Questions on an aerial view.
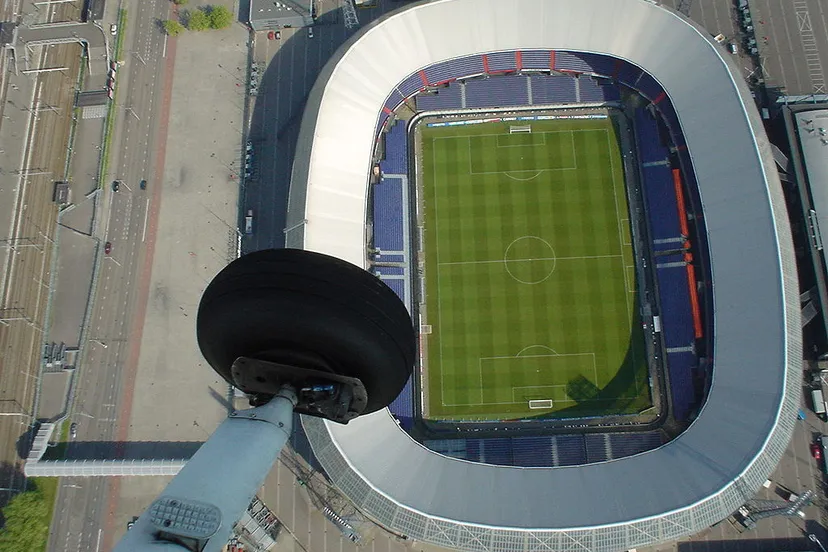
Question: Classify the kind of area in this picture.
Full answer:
The picture captures a sports ground.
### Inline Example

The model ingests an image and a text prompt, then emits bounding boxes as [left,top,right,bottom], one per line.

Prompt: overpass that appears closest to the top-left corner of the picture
[12,19,109,91]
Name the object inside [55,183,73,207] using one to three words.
shed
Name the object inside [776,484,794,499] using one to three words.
vehicle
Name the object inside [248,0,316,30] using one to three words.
building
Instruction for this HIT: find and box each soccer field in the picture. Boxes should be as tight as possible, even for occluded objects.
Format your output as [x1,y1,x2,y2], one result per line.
[416,119,654,419]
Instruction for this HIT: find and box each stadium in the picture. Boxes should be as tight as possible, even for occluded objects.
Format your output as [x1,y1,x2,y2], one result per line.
[285,0,805,552]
